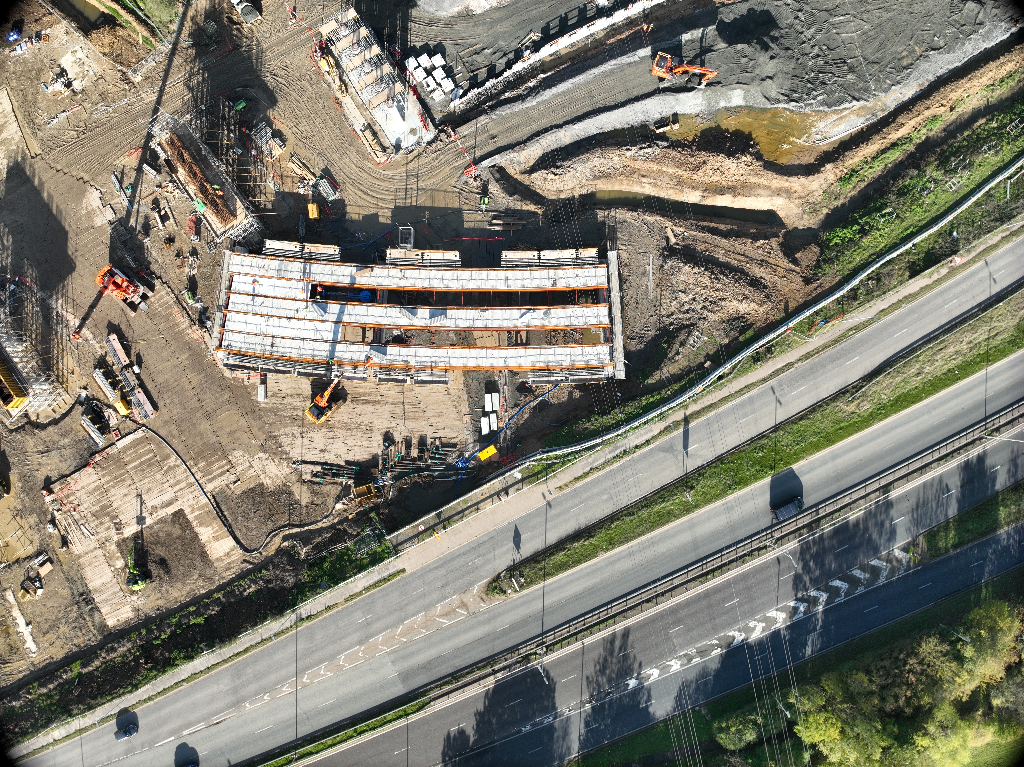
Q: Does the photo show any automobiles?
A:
Yes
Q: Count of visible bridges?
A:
1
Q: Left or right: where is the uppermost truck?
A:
left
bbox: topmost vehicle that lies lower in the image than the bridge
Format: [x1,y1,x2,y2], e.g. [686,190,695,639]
[303,370,341,431]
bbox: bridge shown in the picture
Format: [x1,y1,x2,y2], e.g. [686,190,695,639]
[214,249,614,372]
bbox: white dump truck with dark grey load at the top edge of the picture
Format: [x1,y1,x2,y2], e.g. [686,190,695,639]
[224,0,267,33]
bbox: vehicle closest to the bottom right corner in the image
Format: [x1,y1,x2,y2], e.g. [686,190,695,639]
[768,496,806,521]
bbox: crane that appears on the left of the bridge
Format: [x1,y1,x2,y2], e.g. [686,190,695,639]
[72,258,160,347]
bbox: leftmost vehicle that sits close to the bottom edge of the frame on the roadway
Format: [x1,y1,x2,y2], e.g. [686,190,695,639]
[111,721,143,745]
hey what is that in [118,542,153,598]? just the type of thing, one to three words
work vehicle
